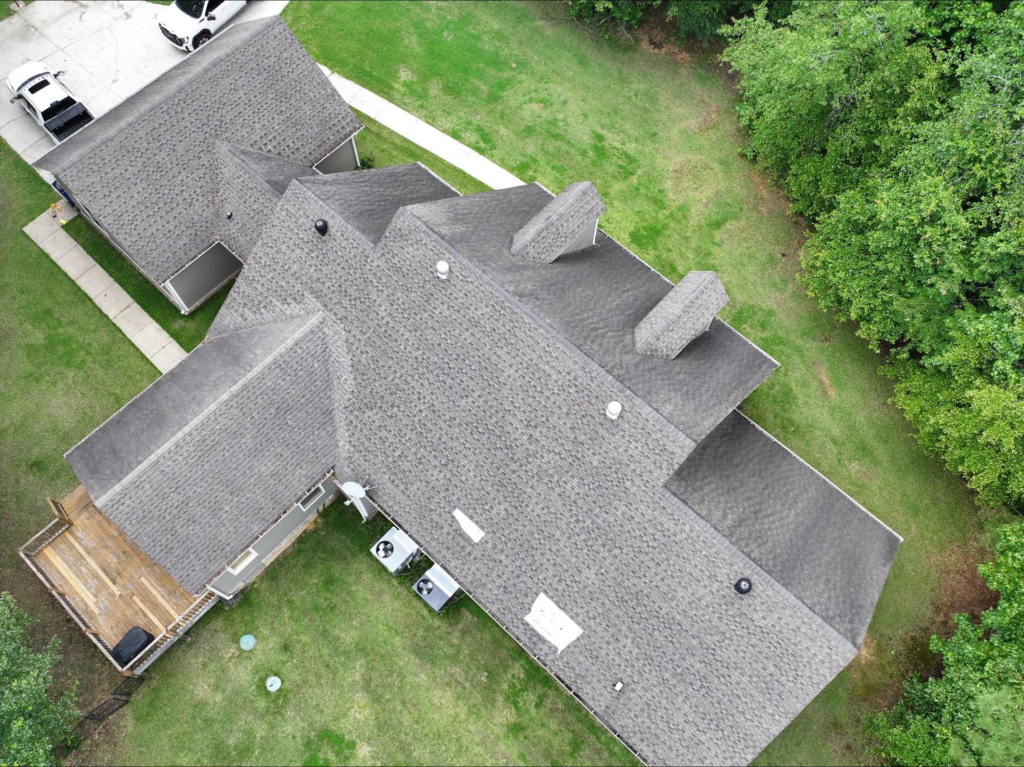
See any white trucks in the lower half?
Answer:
No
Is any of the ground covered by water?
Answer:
No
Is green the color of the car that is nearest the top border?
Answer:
No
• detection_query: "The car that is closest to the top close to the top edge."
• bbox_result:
[157,0,260,50]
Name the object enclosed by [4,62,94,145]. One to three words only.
truck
